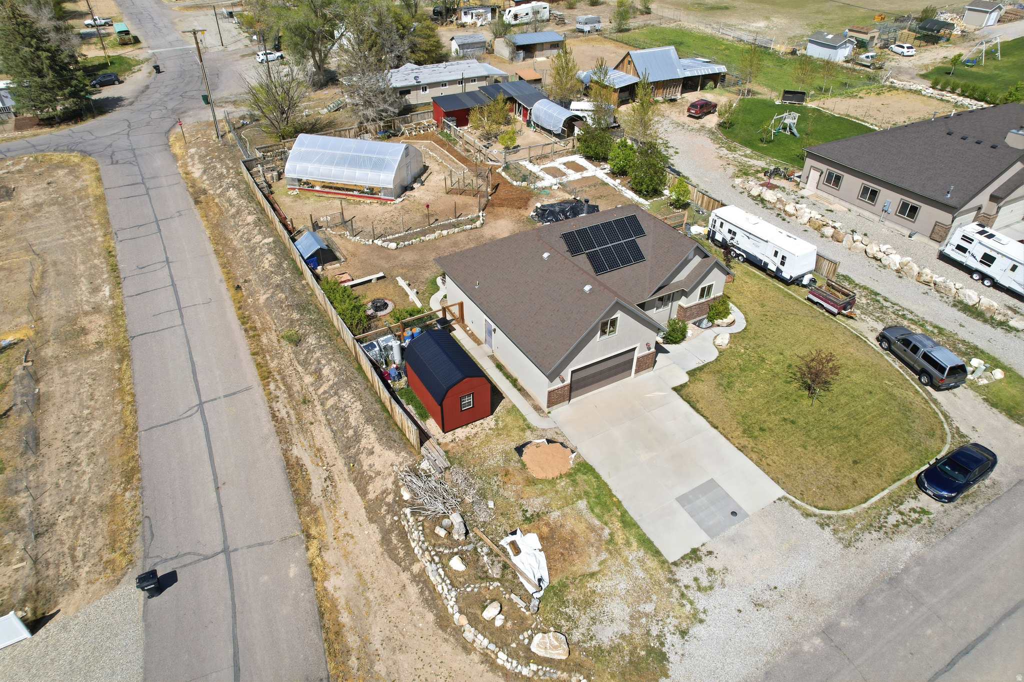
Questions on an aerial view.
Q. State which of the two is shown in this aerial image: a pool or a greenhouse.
greenhouse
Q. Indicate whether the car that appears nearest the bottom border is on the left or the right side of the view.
right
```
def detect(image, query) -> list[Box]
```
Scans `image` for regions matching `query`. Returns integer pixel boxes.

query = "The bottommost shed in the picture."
[402,328,495,433]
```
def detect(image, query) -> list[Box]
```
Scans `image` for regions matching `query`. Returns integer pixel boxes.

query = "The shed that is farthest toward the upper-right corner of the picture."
[933,3,993,30]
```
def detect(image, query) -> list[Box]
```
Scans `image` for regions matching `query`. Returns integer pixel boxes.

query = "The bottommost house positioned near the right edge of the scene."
[794,93,1024,251]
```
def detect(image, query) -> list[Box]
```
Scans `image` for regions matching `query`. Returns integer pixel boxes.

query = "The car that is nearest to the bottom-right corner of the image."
[927,440,1004,497]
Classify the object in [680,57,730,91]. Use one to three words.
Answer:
shed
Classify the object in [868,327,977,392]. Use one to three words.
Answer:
truck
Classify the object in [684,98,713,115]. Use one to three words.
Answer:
car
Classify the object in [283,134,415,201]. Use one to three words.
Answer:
greenhouse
